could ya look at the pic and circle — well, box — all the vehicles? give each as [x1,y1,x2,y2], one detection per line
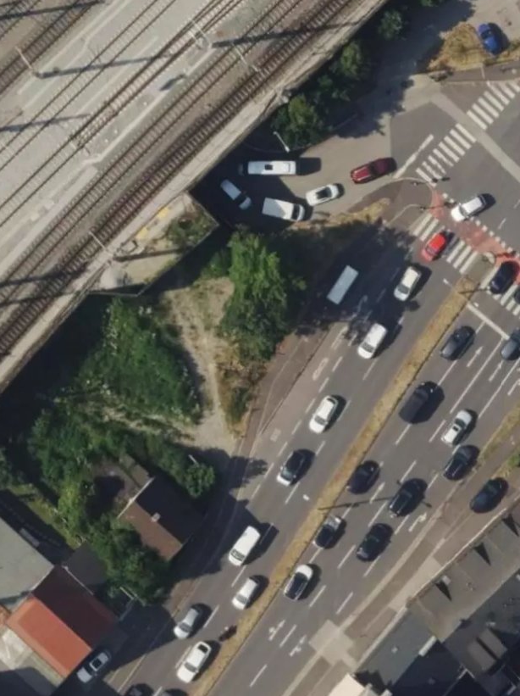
[440,323,472,362]
[396,265,424,301]
[172,602,205,642]
[421,228,450,264]
[231,575,261,610]
[177,641,211,680]
[304,183,342,206]
[477,21,503,57]
[400,382,435,422]
[228,524,262,566]
[488,259,518,295]
[353,160,393,183]
[280,449,310,485]
[217,176,254,214]
[450,192,490,222]
[500,326,520,363]
[312,512,345,551]
[348,459,378,494]
[258,195,308,224]
[358,522,391,562]
[282,563,315,602]
[356,321,391,361]
[309,394,341,434]
[472,474,506,513]
[77,646,112,685]
[390,478,423,517]
[156,687,176,696]
[442,443,476,483]
[441,407,473,448]
[240,156,298,180]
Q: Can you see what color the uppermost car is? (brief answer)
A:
blue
